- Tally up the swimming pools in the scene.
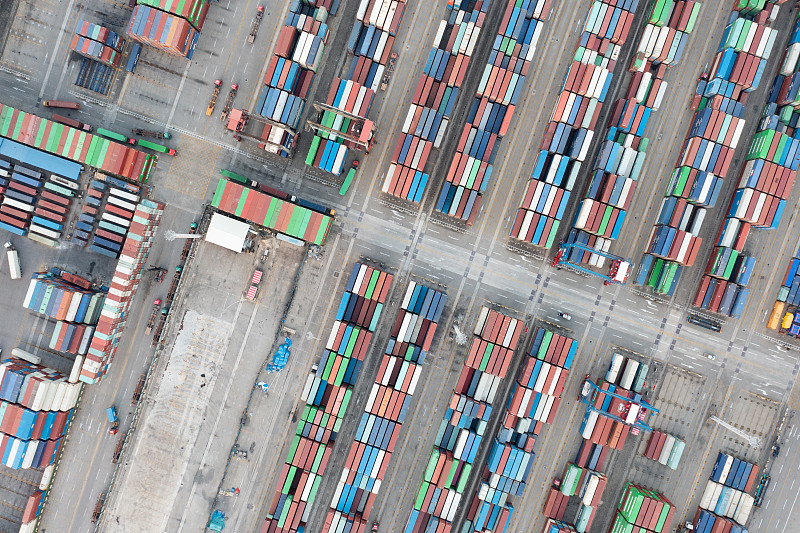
0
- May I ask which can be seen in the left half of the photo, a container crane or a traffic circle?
container crane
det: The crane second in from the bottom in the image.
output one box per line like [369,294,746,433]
[549,234,635,290]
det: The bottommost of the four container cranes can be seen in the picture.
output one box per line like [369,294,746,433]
[575,370,661,434]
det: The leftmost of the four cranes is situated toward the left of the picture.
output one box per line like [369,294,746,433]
[222,104,302,166]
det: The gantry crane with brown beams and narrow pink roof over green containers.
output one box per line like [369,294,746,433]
[304,96,378,160]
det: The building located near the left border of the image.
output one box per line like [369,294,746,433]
[0,138,88,181]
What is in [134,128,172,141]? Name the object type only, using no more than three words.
vehicle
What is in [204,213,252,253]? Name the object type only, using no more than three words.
shed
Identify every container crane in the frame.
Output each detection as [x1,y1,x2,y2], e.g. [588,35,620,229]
[222,104,302,166]
[575,370,661,434]
[549,234,635,290]
[304,96,378,160]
